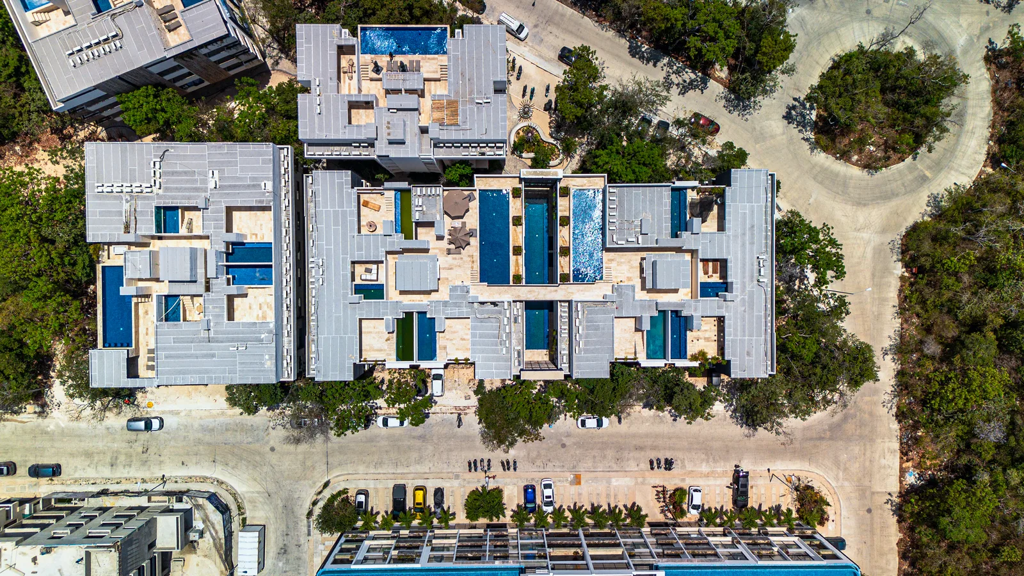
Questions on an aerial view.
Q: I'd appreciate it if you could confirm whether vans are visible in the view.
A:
Yes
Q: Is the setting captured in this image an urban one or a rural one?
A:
urban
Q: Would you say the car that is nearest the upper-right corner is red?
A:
Yes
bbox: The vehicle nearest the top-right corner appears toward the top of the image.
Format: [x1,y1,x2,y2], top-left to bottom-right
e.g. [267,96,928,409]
[688,112,720,137]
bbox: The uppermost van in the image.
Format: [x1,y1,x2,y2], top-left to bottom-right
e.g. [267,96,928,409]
[496,11,531,42]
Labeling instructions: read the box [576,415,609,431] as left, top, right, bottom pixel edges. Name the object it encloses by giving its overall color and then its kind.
white car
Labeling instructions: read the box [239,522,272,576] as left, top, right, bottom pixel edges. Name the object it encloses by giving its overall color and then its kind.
white trailer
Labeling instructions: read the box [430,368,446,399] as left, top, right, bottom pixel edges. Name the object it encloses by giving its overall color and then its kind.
white car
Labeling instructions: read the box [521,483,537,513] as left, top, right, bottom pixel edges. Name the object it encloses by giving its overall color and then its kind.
blue car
